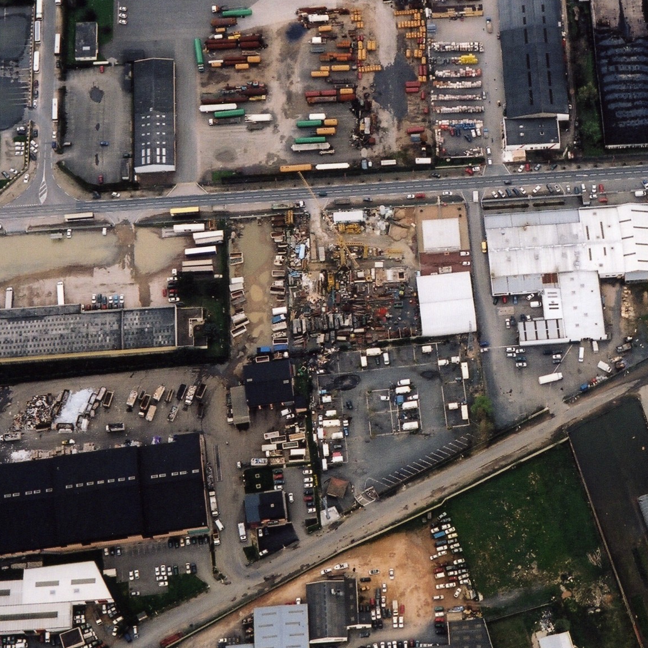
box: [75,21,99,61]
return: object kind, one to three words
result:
shed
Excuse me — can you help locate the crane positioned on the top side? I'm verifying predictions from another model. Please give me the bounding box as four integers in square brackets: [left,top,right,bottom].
[298,171,363,272]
